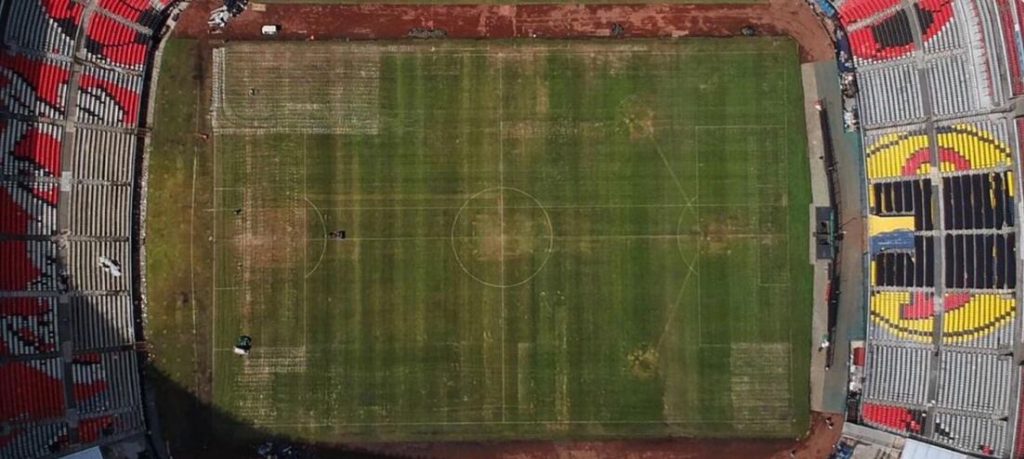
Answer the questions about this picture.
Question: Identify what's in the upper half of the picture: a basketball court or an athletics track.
athletics track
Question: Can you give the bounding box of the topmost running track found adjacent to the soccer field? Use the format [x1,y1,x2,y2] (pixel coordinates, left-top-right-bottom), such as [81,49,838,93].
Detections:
[170,0,835,62]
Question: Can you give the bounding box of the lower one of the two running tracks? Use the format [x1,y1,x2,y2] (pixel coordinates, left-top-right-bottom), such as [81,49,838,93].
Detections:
[173,411,843,459]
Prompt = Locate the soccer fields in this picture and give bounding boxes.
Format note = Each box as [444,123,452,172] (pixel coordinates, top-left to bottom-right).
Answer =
[147,33,813,444]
